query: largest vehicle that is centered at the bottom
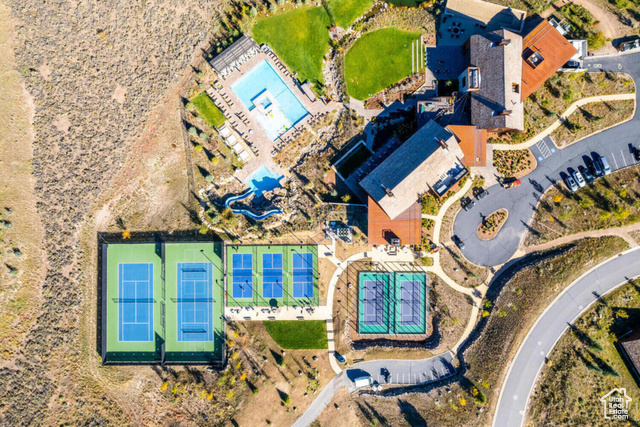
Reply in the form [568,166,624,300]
[354,374,373,387]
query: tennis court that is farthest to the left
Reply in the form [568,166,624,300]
[107,244,163,361]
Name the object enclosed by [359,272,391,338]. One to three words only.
tennis court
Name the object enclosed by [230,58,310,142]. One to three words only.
swimming pool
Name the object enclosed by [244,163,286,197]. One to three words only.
swimming pool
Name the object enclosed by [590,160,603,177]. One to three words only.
vehicle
